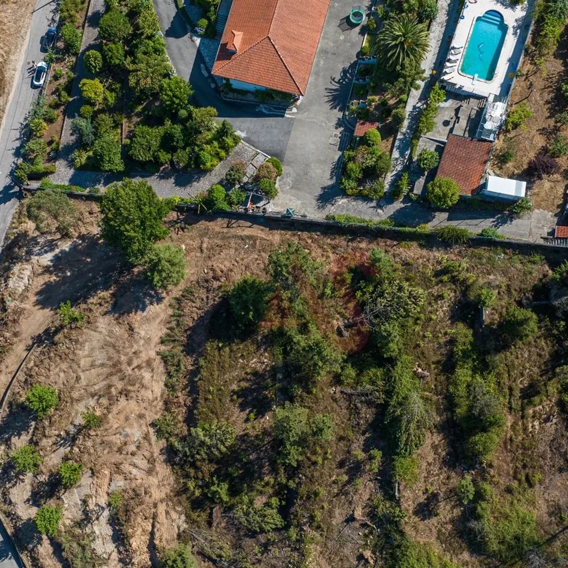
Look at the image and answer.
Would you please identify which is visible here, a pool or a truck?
pool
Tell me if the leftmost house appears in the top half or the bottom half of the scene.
top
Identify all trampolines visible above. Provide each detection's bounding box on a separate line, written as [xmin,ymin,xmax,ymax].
[349,5,366,25]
